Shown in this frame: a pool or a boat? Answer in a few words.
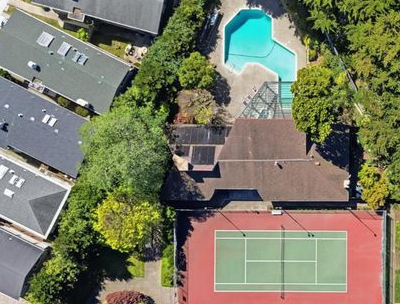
pool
